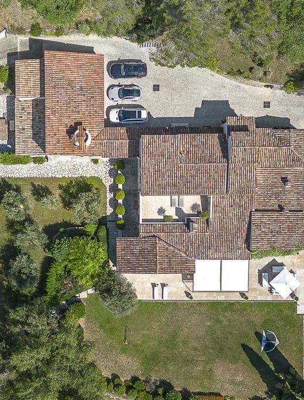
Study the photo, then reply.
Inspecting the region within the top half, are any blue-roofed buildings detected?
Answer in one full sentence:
No, no blue-roofed building appears within the top half.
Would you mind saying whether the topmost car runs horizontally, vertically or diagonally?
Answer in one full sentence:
In this picture, the topmost car is oriented horizontally.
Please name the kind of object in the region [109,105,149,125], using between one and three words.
car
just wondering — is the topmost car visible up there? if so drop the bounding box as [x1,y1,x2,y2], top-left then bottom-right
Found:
[109,59,149,79]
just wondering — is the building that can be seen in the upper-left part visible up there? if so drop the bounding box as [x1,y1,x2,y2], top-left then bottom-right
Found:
[14,50,143,158]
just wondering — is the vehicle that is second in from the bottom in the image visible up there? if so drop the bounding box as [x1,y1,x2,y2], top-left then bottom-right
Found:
[107,83,143,102]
